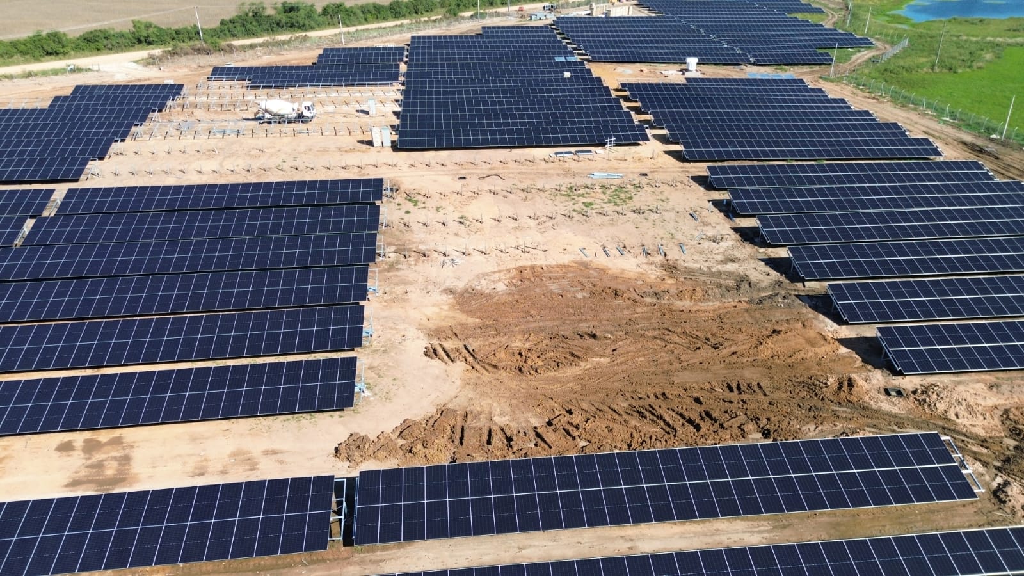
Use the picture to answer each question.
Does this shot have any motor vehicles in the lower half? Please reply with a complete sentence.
No, no motor vehicle appears in the lower half.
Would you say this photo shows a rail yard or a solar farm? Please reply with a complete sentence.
What you see here is a solar farm.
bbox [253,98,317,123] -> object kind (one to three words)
truck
